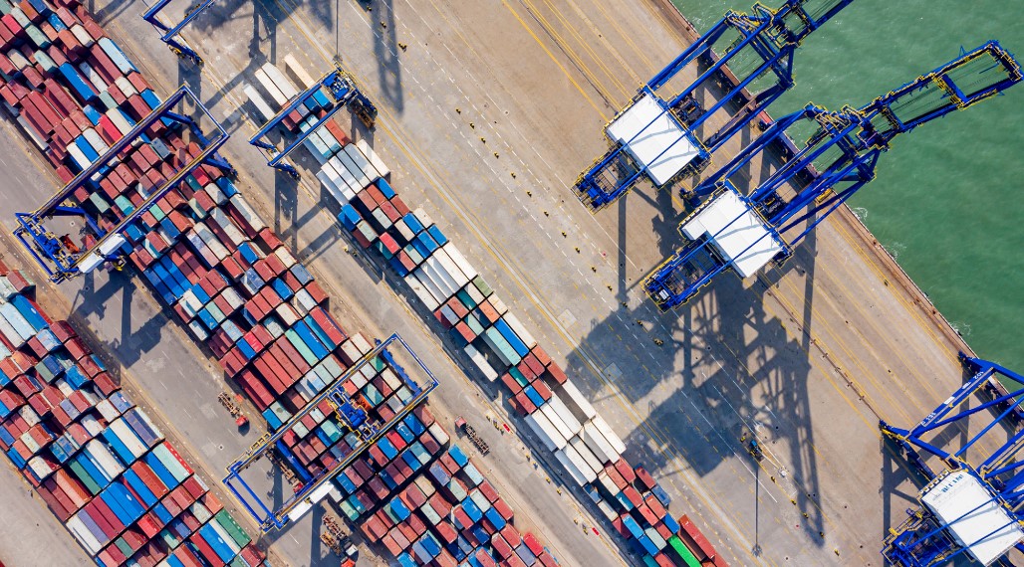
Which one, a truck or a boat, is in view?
truck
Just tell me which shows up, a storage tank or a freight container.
freight container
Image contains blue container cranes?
Yes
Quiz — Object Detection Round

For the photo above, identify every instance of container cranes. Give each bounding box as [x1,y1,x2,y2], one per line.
[880,350,1024,567]
[7,85,233,289]
[220,332,442,537]
[570,0,849,216]
[142,0,216,64]
[249,62,377,180]
[652,38,1020,311]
